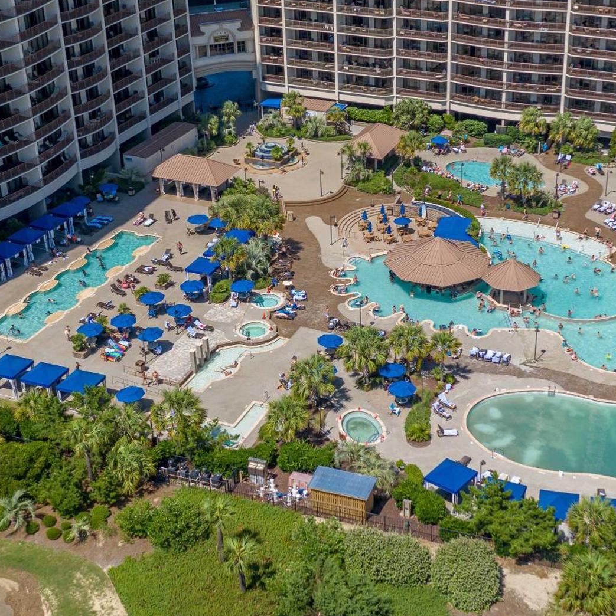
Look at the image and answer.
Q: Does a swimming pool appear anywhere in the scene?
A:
Yes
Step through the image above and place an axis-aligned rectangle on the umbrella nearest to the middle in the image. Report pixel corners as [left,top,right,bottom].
[315,335,343,352]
